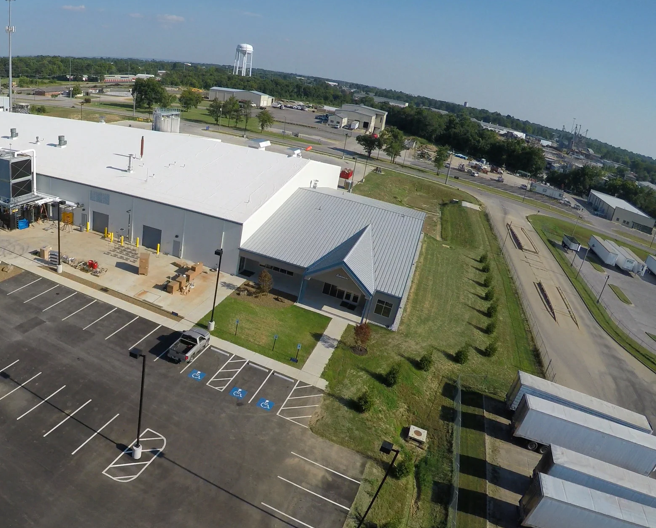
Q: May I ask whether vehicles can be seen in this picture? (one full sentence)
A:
Yes, a vehicle is visible in the scene.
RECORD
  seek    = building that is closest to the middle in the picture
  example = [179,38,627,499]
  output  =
[234,180,426,329]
